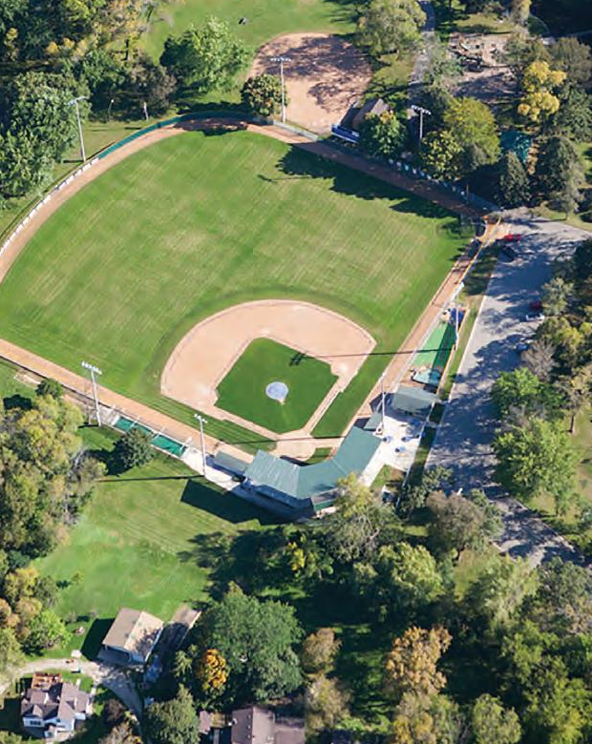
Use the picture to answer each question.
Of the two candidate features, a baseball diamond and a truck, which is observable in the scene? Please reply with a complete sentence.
Visible in the photo is a baseball diamond.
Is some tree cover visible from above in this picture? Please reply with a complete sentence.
Yes, some tree cover is visible.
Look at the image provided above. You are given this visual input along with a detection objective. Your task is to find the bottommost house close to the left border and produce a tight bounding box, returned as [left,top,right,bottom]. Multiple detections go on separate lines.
[20,681,93,744]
